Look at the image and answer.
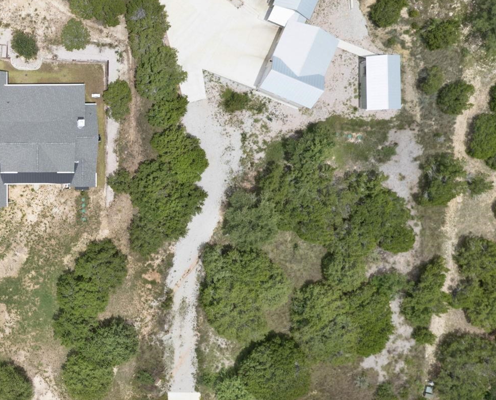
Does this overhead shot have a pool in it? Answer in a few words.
No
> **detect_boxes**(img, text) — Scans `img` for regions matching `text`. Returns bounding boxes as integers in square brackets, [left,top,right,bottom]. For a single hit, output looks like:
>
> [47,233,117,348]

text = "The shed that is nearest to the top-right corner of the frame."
[358,55,401,111]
